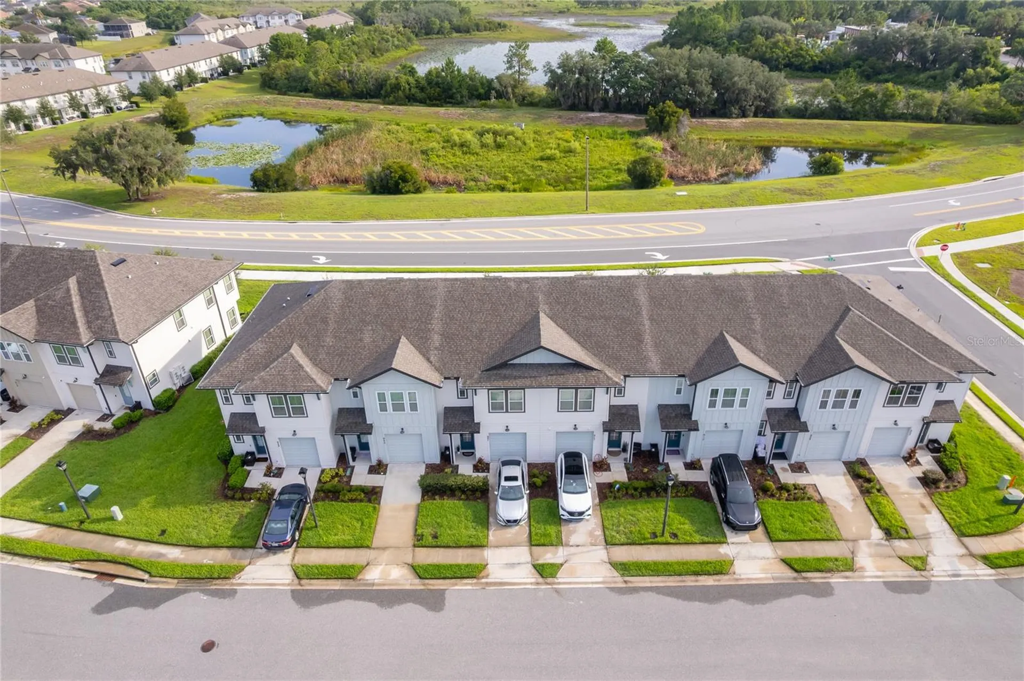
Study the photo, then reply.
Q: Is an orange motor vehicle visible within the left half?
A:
No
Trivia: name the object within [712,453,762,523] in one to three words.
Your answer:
car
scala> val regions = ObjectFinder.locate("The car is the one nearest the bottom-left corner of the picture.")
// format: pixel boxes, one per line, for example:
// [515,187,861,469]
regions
[263,481,311,545]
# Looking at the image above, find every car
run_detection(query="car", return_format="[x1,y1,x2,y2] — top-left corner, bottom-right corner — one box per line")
[712,453,762,523]
[493,458,530,522]
[263,481,311,545]
[556,452,594,516]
